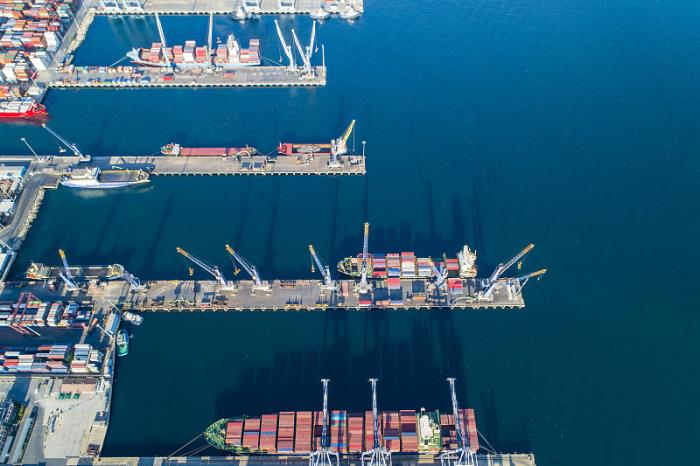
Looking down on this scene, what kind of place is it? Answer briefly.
port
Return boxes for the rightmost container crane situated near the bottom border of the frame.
[438,379,485,466]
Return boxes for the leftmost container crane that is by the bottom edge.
[304,379,344,466]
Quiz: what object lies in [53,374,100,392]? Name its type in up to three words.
building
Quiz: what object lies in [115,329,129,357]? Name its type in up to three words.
boat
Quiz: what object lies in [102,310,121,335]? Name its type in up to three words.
building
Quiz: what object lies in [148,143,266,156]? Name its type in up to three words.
ship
